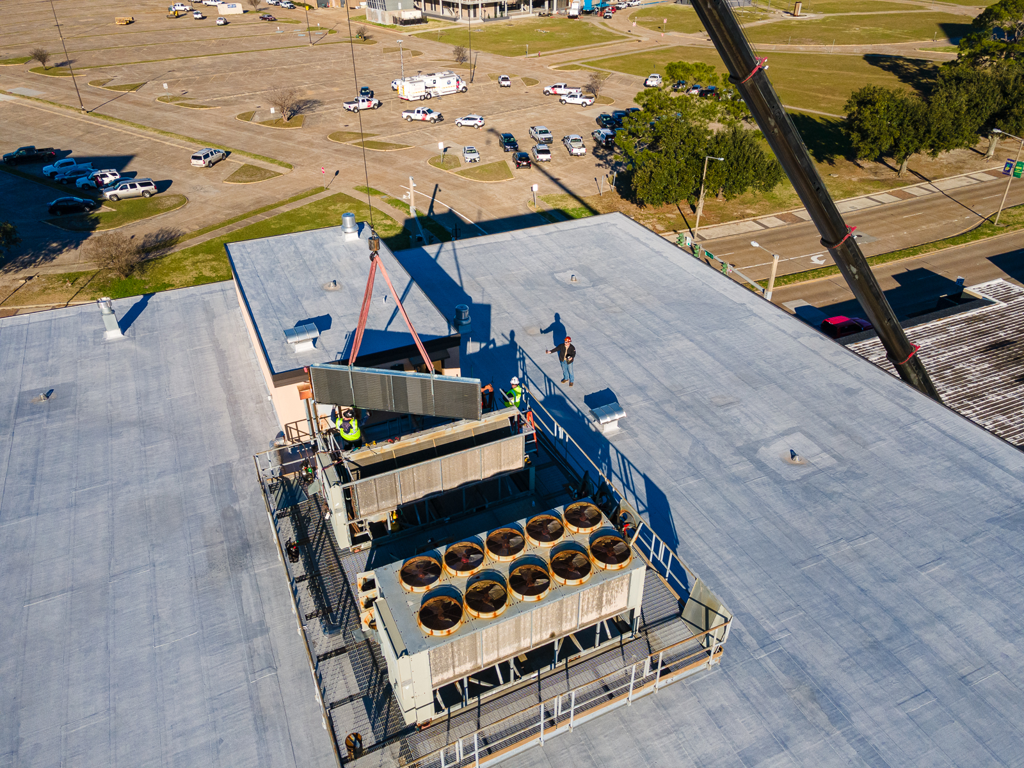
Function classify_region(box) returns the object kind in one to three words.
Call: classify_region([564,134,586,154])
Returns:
vehicle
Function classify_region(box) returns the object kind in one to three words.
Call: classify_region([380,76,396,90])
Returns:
car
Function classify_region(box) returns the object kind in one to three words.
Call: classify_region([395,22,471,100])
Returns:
truck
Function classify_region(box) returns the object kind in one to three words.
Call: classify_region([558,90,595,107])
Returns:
vehicle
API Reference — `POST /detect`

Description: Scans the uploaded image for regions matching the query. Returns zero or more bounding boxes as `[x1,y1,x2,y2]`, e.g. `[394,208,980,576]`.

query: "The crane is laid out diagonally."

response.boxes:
[681,0,953,406]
